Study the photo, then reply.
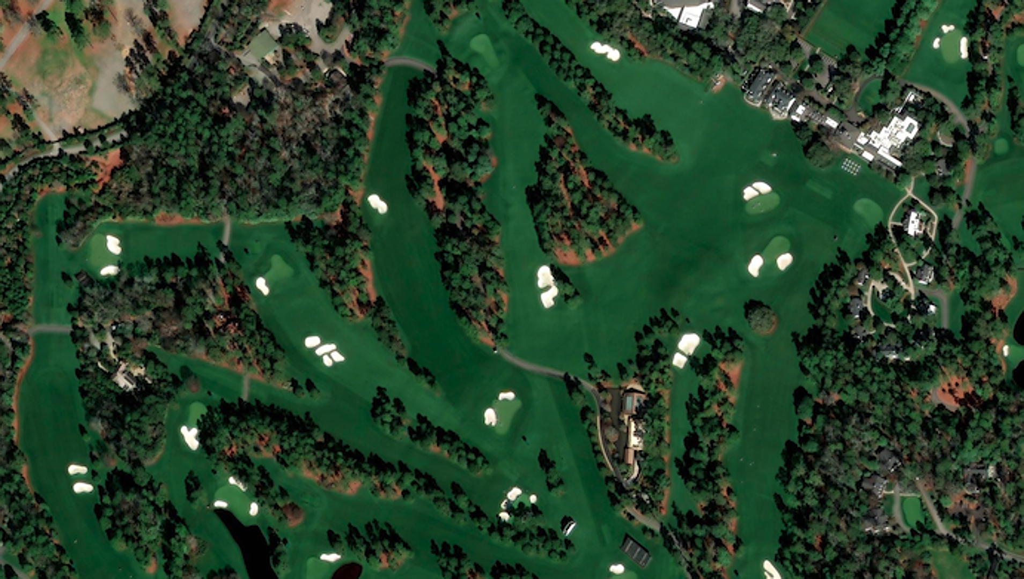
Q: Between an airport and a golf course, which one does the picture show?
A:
golf course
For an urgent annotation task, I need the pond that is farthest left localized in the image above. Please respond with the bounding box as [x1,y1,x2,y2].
[214,508,281,579]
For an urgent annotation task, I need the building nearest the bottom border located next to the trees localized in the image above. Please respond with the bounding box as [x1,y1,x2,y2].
[864,509,889,533]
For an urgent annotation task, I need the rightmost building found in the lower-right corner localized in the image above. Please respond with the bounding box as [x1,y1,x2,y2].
[964,466,996,492]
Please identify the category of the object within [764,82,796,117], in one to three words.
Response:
building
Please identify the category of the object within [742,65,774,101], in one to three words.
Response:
building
